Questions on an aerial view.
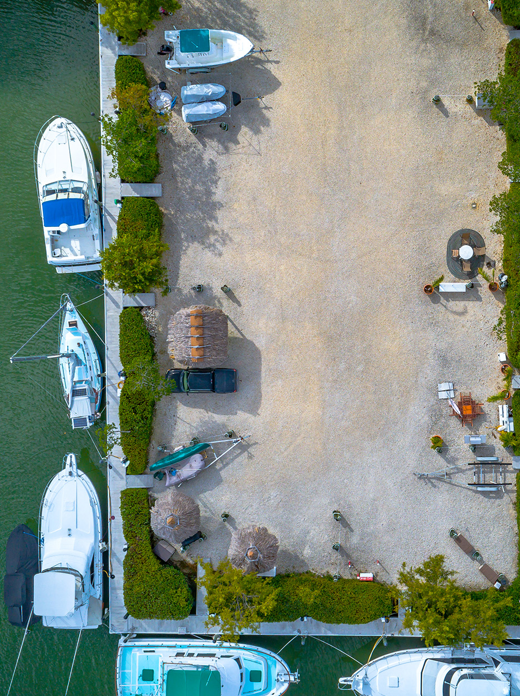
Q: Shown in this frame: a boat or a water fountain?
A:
boat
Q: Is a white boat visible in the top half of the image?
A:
Yes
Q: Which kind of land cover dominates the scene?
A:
paved ground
